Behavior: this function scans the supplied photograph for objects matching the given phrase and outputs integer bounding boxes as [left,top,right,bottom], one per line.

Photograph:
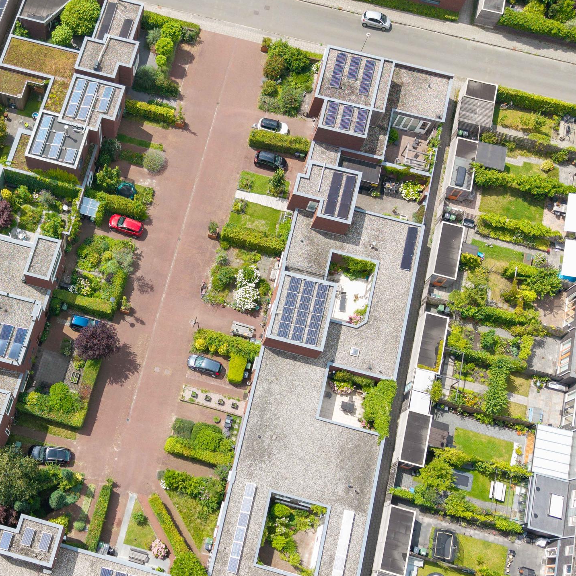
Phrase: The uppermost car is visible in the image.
[362,9,391,31]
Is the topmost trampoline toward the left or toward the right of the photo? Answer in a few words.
left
